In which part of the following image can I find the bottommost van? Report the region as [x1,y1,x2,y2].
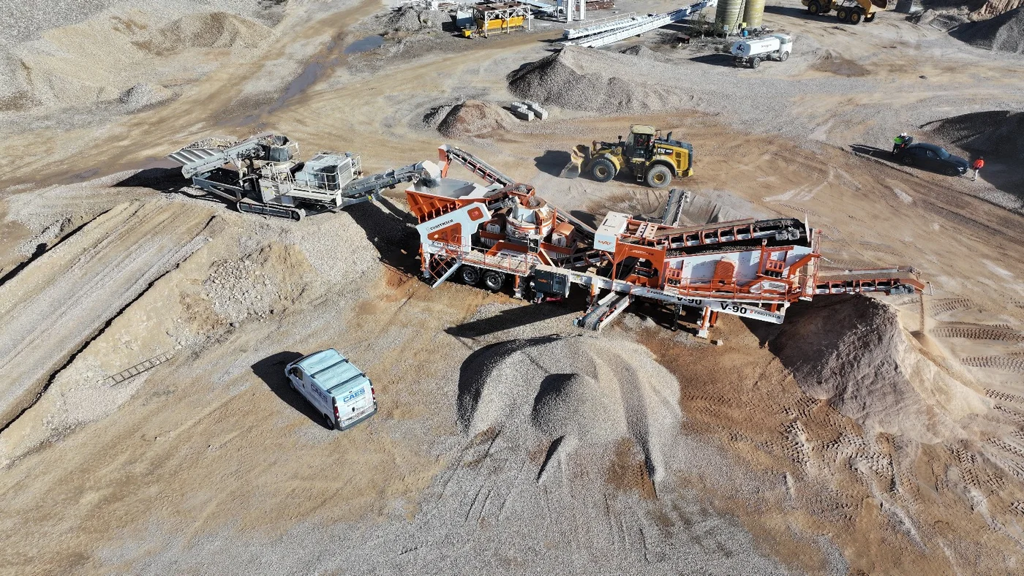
[280,344,381,437]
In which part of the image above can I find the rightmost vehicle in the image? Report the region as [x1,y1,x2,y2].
[895,127,974,175]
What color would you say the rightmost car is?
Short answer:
black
